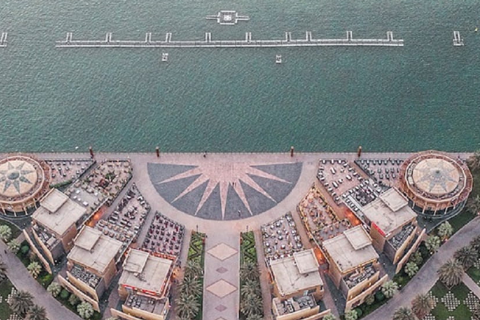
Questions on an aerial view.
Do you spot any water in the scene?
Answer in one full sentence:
Yes, water shows up in the scene.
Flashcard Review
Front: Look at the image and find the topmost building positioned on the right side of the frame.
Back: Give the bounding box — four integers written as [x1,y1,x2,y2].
[397,151,472,222]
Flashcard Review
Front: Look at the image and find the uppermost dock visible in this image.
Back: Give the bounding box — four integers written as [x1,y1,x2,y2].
[205,8,251,27]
